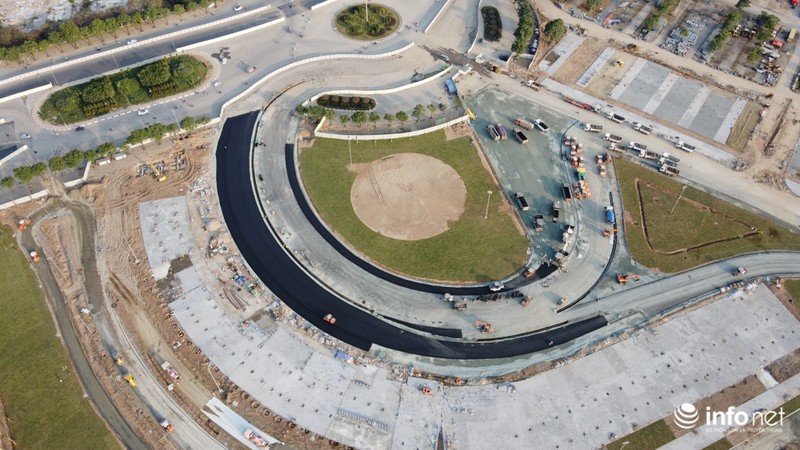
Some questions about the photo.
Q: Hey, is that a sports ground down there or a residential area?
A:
sports ground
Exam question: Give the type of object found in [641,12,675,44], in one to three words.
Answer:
shed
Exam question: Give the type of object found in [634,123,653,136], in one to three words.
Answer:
vehicle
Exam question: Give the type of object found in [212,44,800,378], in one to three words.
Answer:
race track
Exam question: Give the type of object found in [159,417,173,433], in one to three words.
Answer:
work vehicle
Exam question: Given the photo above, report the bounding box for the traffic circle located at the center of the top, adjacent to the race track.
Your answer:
[334,2,401,40]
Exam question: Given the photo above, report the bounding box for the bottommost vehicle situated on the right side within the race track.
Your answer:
[473,318,495,334]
